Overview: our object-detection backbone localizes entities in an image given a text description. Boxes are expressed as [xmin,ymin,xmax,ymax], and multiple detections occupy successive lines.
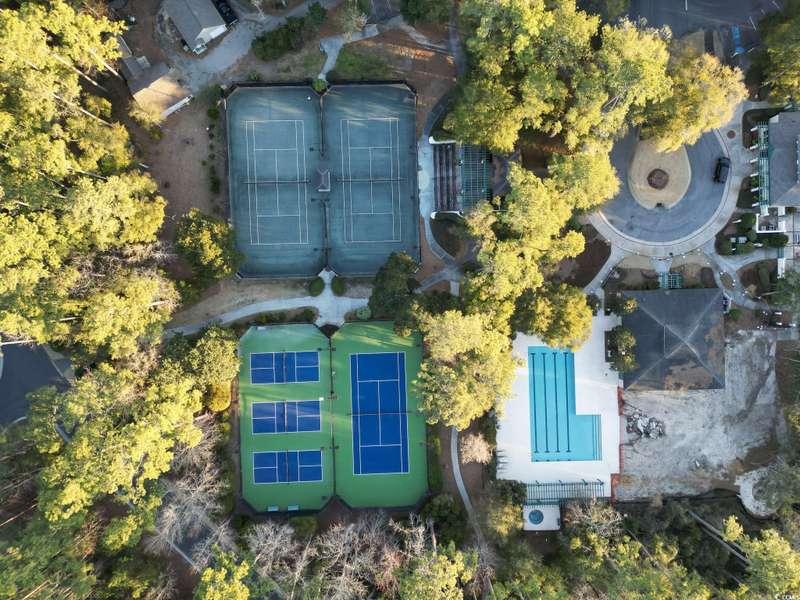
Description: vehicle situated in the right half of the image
[712,157,730,184]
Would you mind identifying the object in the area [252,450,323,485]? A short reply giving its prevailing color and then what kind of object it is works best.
blue sports court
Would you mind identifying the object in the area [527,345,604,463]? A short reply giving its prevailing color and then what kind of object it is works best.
blue swimming pool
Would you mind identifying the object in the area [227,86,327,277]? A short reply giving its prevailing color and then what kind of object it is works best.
blue tennis court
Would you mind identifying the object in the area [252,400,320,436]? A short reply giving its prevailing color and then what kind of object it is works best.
blue sports court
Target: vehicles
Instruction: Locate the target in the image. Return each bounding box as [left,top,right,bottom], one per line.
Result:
[215,0,239,25]
[712,157,730,184]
